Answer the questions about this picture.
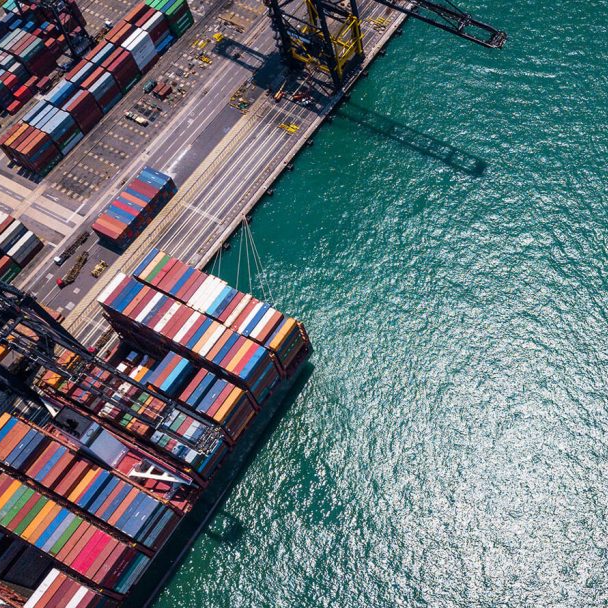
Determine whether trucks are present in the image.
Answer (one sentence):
Yes, you can see a truck in this photo.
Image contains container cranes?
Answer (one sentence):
Yes, there is a container crane in the image.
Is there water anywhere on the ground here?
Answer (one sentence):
Yes, there is water in the image.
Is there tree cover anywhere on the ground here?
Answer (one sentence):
No, there is no tree cover in the image.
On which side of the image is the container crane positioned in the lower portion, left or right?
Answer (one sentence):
The container crane positioned in the lower portion appears in the left half of the scene.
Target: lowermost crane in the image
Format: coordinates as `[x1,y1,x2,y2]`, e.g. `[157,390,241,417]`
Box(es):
[0,283,231,465]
